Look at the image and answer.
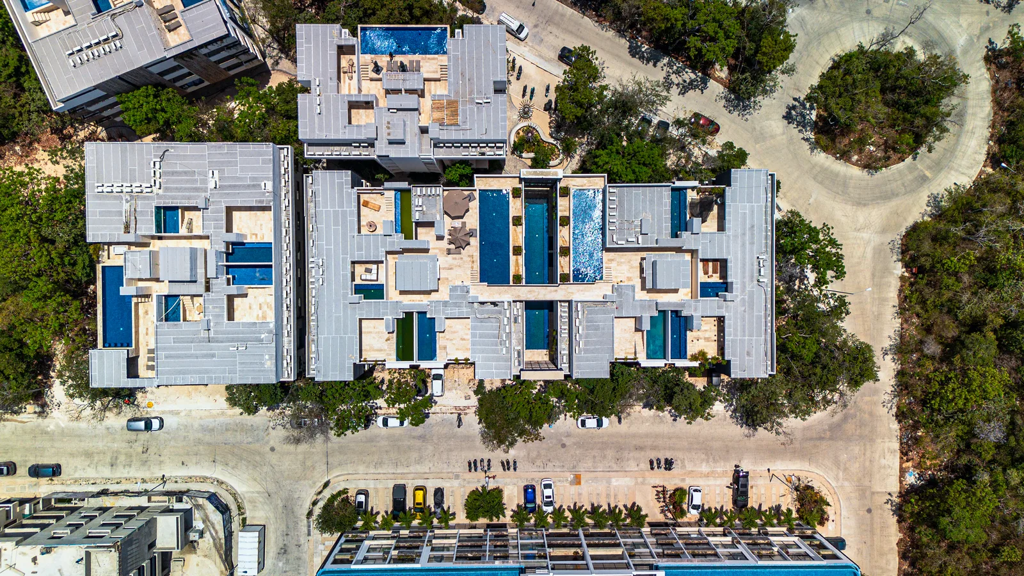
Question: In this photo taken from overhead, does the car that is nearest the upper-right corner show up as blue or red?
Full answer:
The car that is nearest the upper-right corner is red.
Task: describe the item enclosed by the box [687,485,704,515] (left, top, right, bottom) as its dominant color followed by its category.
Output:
white car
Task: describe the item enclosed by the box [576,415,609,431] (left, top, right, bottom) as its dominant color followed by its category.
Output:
white car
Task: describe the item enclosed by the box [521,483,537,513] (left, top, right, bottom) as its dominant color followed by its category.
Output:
blue car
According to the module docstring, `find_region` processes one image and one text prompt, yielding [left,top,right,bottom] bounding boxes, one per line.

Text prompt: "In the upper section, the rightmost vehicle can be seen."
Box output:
[688,112,720,137]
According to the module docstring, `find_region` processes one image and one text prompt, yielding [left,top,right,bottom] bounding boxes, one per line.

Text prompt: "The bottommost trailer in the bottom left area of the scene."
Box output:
[239,522,272,576]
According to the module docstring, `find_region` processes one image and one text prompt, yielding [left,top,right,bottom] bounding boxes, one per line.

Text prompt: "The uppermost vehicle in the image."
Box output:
[496,11,531,42]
